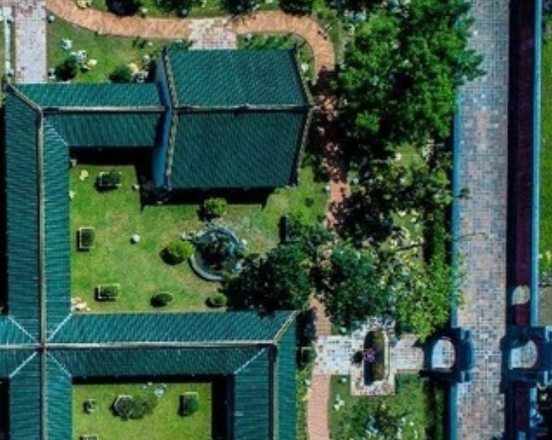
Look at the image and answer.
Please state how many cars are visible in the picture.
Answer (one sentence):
The photo contains no cars.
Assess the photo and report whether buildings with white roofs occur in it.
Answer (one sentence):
No, there is no building with a white roof in the image.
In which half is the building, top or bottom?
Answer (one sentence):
Seen from above, the building lies in the top half of the view.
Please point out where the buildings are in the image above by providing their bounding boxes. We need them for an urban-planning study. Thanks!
[152,36,314,194]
